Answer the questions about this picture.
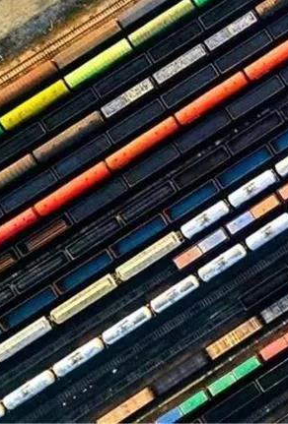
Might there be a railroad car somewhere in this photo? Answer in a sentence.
Yes, a railroad car is visible in the scene.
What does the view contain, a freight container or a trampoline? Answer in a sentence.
It is a freight container that can be seen here.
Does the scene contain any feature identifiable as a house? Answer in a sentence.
No, the picture doesn't show any house.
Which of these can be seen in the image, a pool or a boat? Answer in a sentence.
This aerial view contains a boat.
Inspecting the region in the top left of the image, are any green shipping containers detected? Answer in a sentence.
No, there's no green shipping container to be seen in the top left of the image.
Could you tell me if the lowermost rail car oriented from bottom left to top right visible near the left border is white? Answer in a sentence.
Yes, the lowermost rail car oriented from bottom left to top right visible near the left border is indeed white.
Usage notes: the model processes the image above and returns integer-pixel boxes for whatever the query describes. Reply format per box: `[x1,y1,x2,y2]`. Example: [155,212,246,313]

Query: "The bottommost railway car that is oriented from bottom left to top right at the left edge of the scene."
[4,368,59,409]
